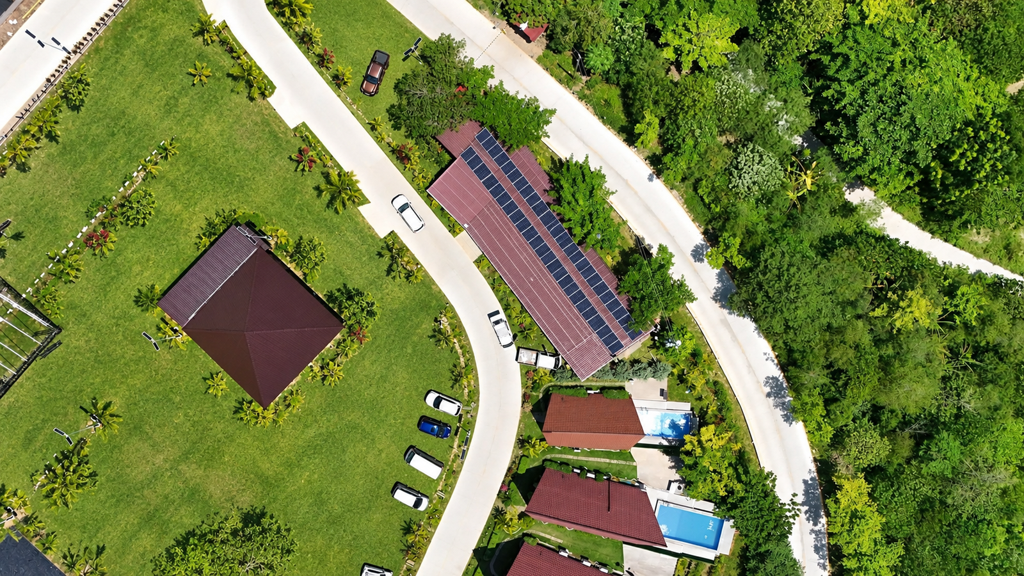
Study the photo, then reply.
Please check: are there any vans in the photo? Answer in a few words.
Yes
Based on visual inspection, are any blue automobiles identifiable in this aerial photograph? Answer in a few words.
Yes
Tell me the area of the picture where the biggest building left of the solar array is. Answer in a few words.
left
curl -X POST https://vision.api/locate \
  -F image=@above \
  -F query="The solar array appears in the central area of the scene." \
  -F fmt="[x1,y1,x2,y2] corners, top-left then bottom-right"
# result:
[461,147,624,355]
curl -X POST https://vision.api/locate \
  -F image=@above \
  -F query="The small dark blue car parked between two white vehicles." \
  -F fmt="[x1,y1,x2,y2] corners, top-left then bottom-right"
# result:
[418,416,453,438]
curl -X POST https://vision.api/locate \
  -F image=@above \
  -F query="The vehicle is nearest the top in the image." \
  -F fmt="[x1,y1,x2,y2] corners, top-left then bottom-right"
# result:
[361,50,391,97]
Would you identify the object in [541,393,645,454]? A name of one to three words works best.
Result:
house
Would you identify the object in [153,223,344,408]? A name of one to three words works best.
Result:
building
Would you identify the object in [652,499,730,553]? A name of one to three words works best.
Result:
swimming pool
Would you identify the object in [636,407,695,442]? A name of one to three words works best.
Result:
swimming pool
